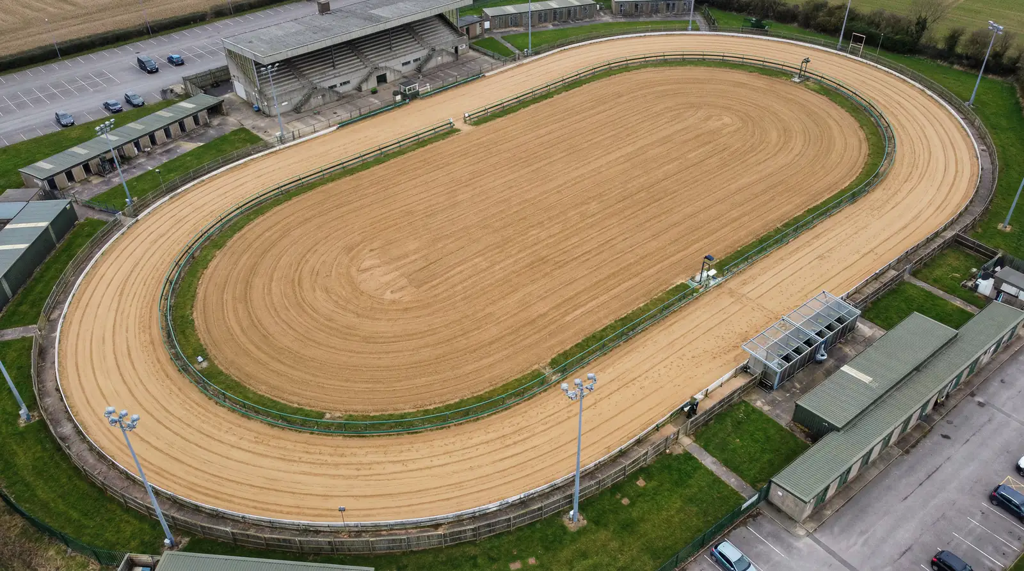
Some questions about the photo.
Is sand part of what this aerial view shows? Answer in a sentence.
Yes, some sand is visible.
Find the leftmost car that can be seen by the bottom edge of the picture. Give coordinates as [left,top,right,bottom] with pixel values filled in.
[715,539,765,571]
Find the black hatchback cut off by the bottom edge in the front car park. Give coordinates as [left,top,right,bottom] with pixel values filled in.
[928,546,976,571]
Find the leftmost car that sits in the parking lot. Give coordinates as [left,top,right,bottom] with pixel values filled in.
[53,110,72,127]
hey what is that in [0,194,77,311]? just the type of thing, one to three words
shed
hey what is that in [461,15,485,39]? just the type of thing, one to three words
shed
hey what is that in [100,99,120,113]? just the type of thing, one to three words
car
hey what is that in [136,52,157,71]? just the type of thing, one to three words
vehicle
